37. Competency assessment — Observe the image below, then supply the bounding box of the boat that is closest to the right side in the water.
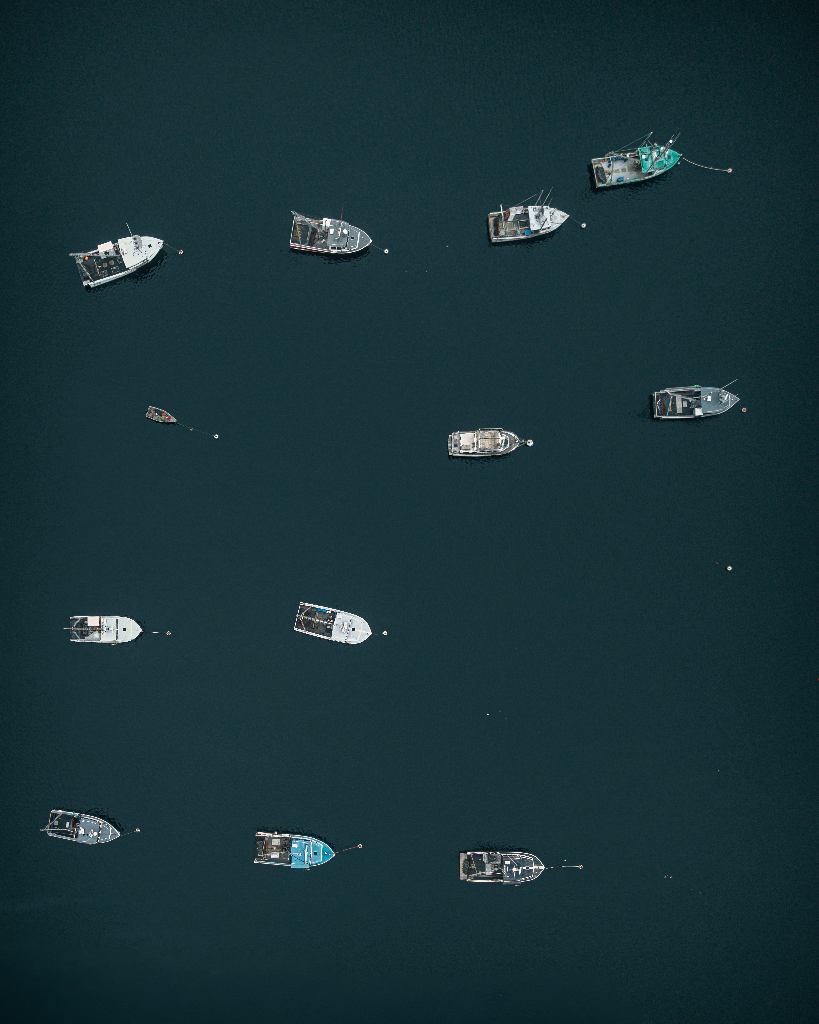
[650,379,740,418]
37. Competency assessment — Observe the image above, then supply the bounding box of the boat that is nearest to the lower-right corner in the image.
[460,849,545,886]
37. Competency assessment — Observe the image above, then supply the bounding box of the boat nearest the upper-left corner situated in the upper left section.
[69,223,164,288]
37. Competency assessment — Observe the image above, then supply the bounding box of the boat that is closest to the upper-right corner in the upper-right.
[590,129,683,189]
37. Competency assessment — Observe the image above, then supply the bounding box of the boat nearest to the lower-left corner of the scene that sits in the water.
[40,809,120,845]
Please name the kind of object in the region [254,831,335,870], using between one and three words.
boat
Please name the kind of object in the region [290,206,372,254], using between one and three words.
boat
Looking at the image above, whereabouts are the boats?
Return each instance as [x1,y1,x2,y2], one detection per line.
[64,615,142,645]
[290,206,372,254]
[144,406,176,423]
[460,849,545,886]
[254,831,335,870]
[69,223,164,288]
[40,809,120,845]
[488,187,569,241]
[294,602,372,643]
[590,129,683,189]
[650,379,740,418]
[449,428,524,456]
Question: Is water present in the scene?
Yes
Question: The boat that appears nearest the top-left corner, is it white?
Yes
